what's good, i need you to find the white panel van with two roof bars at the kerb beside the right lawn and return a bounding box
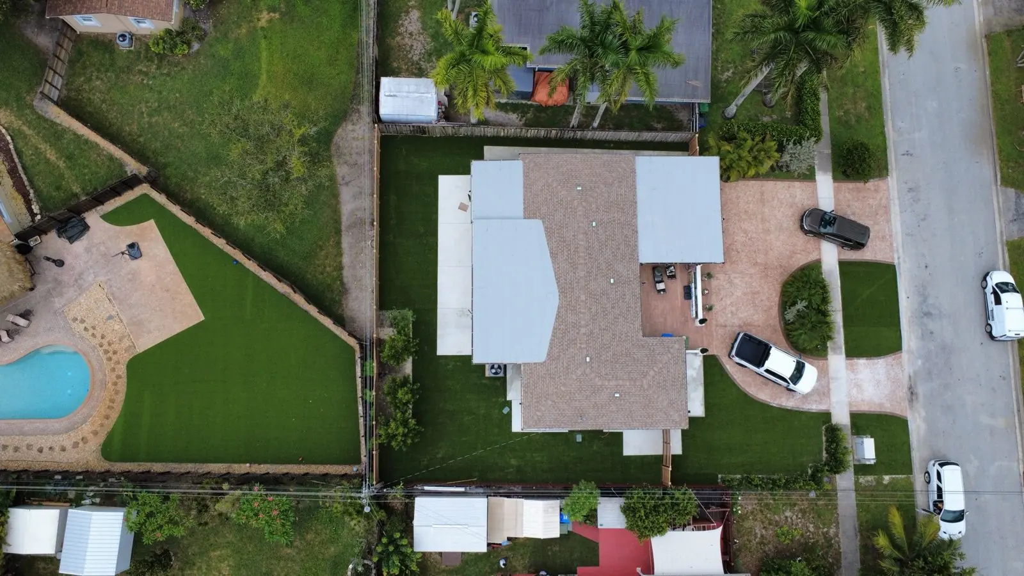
[983,270,1024,343]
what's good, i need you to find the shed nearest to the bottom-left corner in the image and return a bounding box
[3,504,78,554]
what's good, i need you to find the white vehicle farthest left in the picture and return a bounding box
[727,329,817,396]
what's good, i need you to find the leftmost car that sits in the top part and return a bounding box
[799,204,875,253]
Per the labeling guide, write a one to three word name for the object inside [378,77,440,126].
shed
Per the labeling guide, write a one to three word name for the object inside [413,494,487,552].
shed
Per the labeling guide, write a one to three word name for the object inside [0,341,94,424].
swimming pool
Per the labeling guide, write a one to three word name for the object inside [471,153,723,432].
house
